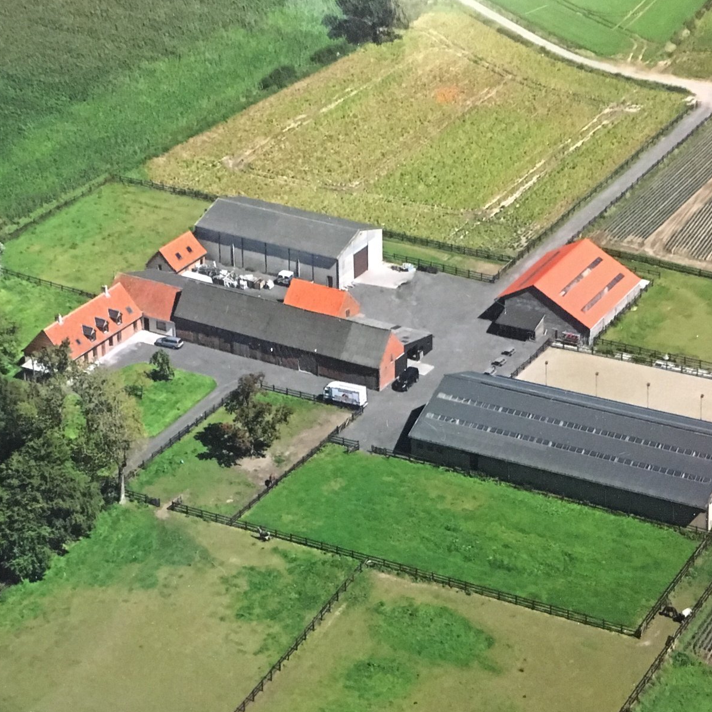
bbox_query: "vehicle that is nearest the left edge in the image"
[155,333,184,347]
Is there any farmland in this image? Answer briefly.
Yes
